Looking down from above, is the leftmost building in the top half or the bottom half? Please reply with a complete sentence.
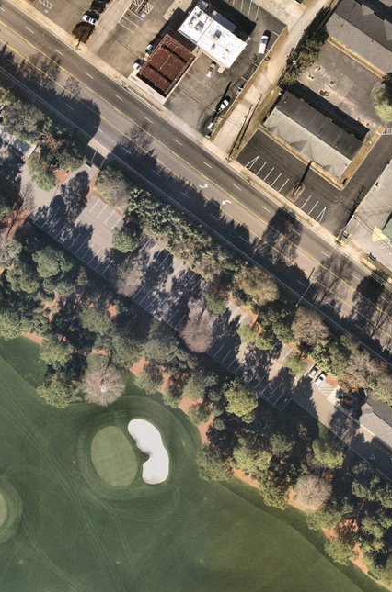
Seen from above, the leftmost building lies in the top half of the view.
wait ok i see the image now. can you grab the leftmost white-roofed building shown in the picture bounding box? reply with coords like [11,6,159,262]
[179,0,260,68]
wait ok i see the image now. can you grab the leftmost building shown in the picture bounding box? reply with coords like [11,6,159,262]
[140,33,195,91]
